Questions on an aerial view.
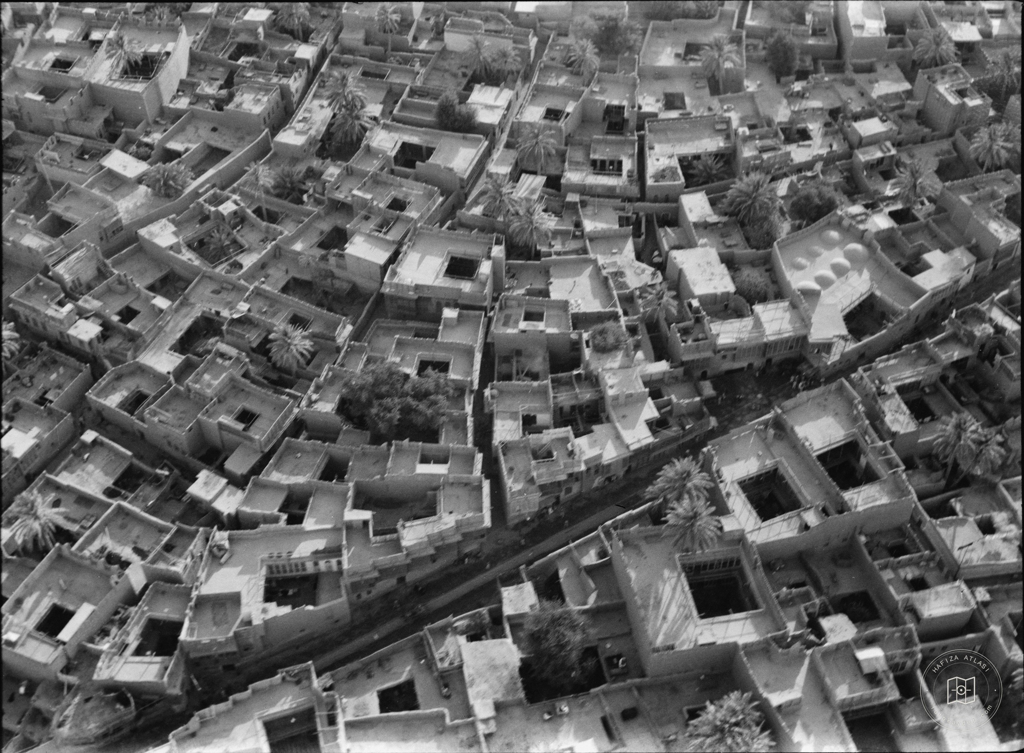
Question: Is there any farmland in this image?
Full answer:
No, the picture contains no farmland.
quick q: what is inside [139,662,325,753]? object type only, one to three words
house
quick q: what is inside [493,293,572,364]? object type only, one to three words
house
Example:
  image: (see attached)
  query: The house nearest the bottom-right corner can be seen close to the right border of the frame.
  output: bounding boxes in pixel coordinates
[936,697,1001,753]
